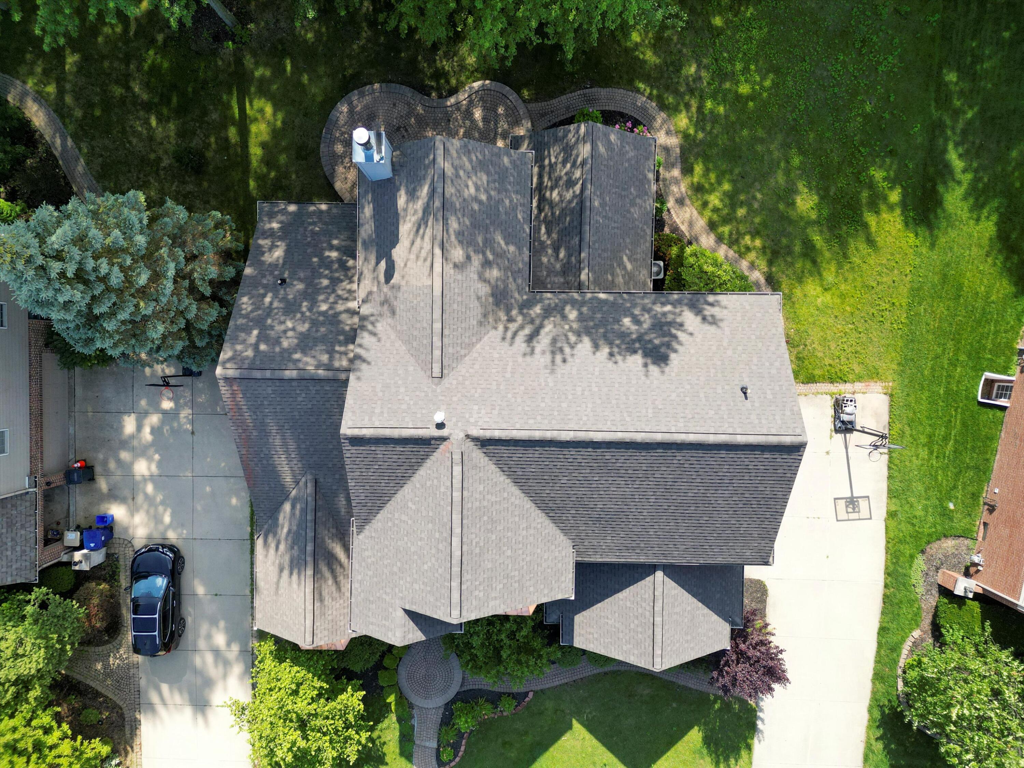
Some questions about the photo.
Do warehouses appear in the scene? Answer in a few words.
No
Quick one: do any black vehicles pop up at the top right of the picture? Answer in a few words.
No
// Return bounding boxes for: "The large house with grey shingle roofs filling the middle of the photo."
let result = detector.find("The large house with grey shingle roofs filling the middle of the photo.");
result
[217,122,809,673]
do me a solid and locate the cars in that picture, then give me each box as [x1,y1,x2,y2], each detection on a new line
[125,542,185,654]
